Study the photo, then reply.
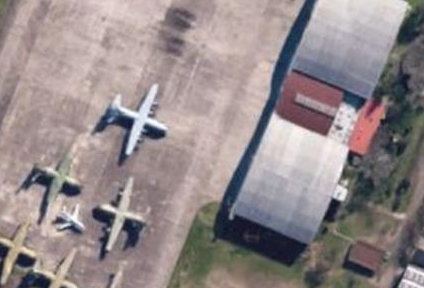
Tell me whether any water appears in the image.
No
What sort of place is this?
airport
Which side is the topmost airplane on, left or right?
left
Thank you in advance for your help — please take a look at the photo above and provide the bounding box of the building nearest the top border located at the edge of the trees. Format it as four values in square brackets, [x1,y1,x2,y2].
[293,0,410,100]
